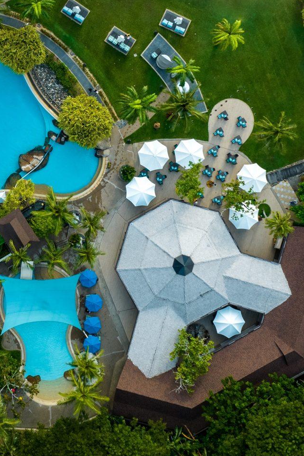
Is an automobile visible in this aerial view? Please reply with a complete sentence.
No, the scene contains no automobile.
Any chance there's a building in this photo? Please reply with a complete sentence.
Yes, there's a building down there.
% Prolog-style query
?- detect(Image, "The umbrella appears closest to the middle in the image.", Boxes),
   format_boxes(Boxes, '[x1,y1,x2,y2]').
[123,174,157,208]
